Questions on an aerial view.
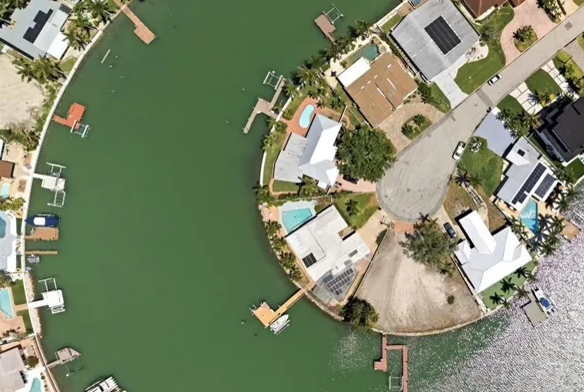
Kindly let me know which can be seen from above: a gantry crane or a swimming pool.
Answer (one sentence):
Looking from above, you can make out a swimming pool.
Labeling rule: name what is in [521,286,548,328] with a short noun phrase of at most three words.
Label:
pier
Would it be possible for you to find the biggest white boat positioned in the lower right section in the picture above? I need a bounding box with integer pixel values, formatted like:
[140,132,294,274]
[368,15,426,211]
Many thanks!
[536,289,554,315]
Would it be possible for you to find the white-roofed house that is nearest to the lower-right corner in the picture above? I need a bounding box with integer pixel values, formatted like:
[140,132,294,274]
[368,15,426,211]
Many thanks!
[454,211,532,293]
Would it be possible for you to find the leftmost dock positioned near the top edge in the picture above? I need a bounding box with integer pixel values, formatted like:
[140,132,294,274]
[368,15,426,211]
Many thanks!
[121,3,157,45]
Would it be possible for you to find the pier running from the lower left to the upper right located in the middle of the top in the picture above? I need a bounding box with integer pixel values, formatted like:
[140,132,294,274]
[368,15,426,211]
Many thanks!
[243,77,287,134]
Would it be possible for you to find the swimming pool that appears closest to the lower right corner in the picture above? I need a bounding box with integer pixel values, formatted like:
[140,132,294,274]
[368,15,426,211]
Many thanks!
[518,197,540,236]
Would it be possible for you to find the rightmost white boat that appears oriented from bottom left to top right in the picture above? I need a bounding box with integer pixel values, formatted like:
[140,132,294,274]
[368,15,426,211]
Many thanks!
[268,315,289,330]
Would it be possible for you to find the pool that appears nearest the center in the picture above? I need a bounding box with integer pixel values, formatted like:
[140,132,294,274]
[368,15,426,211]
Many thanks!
[282,207,313,235]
